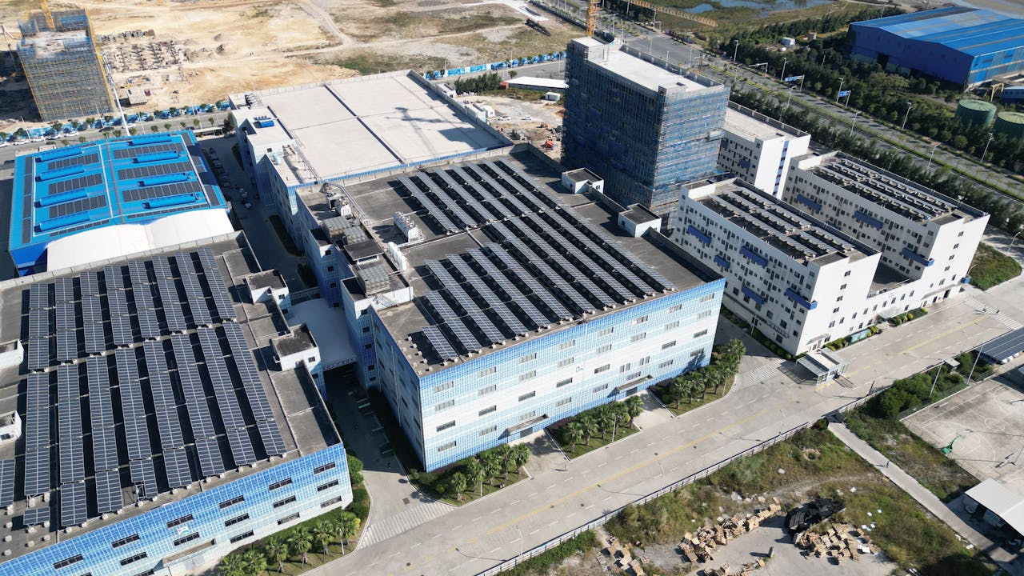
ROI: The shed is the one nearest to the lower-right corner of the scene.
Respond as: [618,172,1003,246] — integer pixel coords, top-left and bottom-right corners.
[963,475,1024,531]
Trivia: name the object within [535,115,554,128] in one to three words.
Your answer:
vehicle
